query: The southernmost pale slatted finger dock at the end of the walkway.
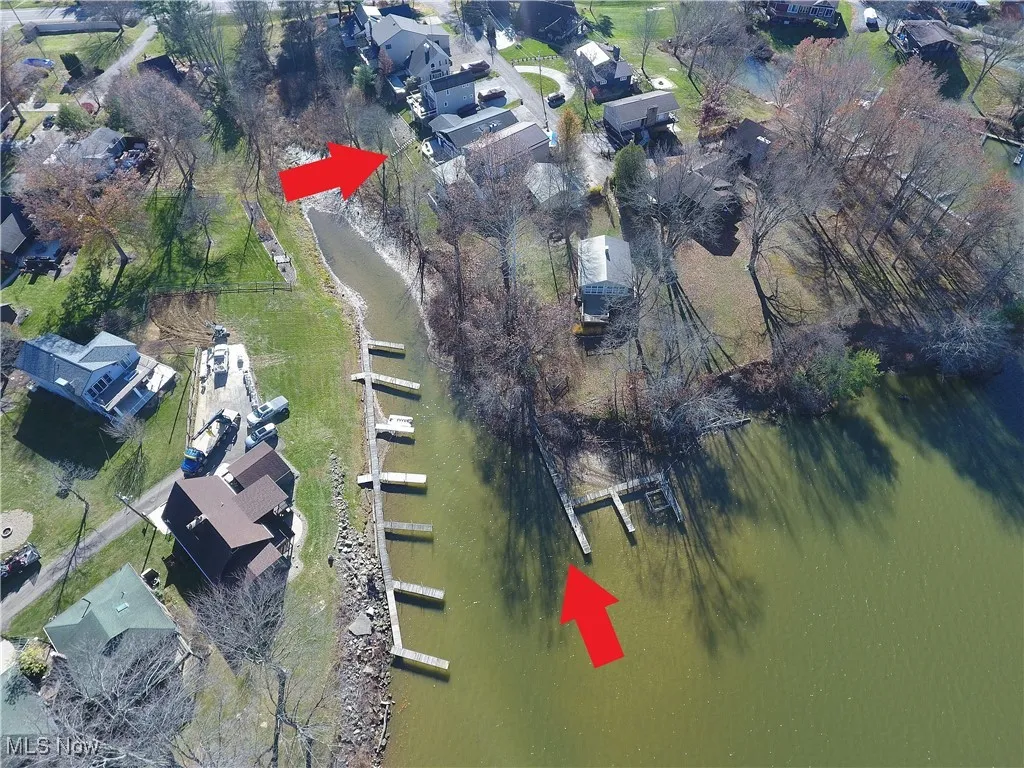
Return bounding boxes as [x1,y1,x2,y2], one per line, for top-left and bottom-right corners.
[386,642,452,677]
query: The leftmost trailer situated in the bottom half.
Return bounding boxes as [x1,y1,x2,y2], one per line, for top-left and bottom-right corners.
[0,539,46,586]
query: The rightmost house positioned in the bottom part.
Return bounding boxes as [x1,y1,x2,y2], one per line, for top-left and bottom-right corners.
[169,441,296,599]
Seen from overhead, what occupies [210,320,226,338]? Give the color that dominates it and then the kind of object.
gray work vehicle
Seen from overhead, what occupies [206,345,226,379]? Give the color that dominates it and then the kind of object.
white vehicle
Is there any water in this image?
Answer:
Yes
